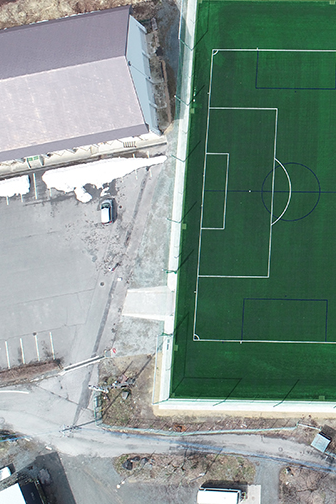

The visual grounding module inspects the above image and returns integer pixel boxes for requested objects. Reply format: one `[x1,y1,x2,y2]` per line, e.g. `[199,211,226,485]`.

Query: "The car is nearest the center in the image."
[101,199,116,224]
